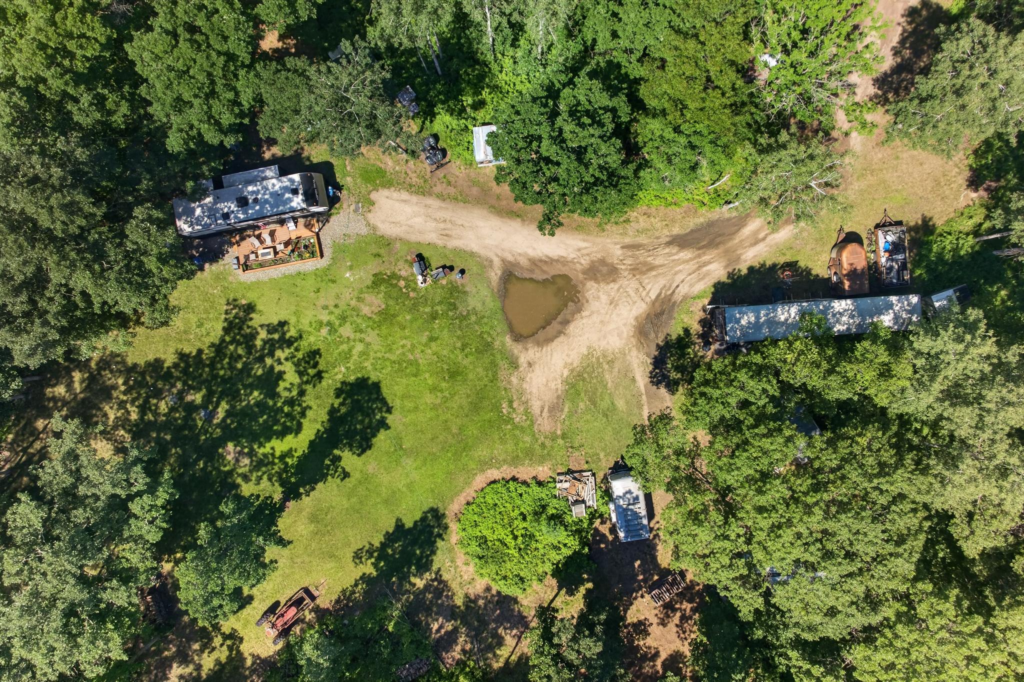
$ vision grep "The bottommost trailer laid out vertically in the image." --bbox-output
[606,457,649,541]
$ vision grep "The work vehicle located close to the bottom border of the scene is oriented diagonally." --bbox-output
[254,578,328,648]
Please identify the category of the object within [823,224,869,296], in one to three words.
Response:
trailer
